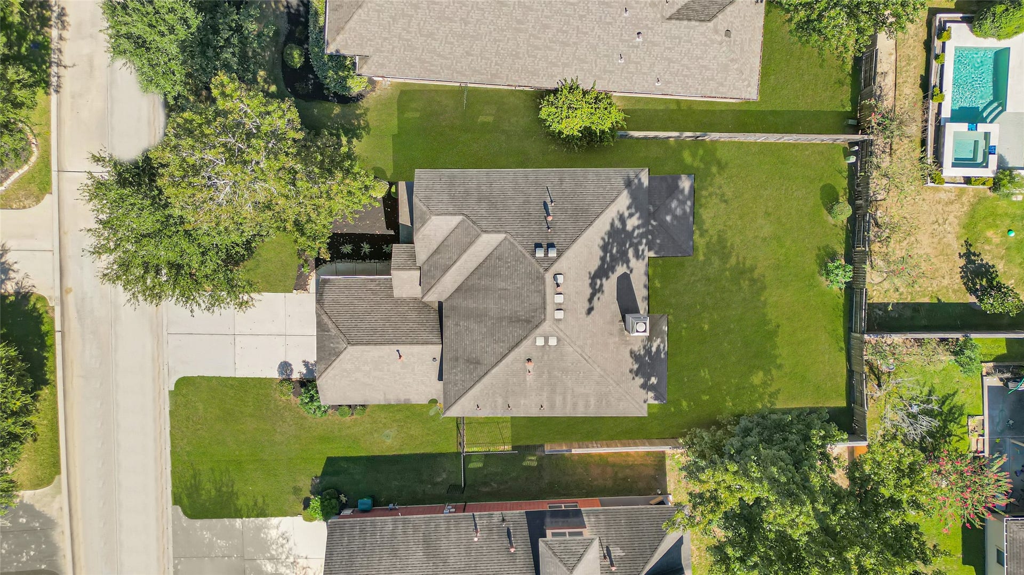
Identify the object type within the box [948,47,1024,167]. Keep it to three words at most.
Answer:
swimming pool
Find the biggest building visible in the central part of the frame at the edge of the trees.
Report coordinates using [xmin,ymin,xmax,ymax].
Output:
[314,167,695,418]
